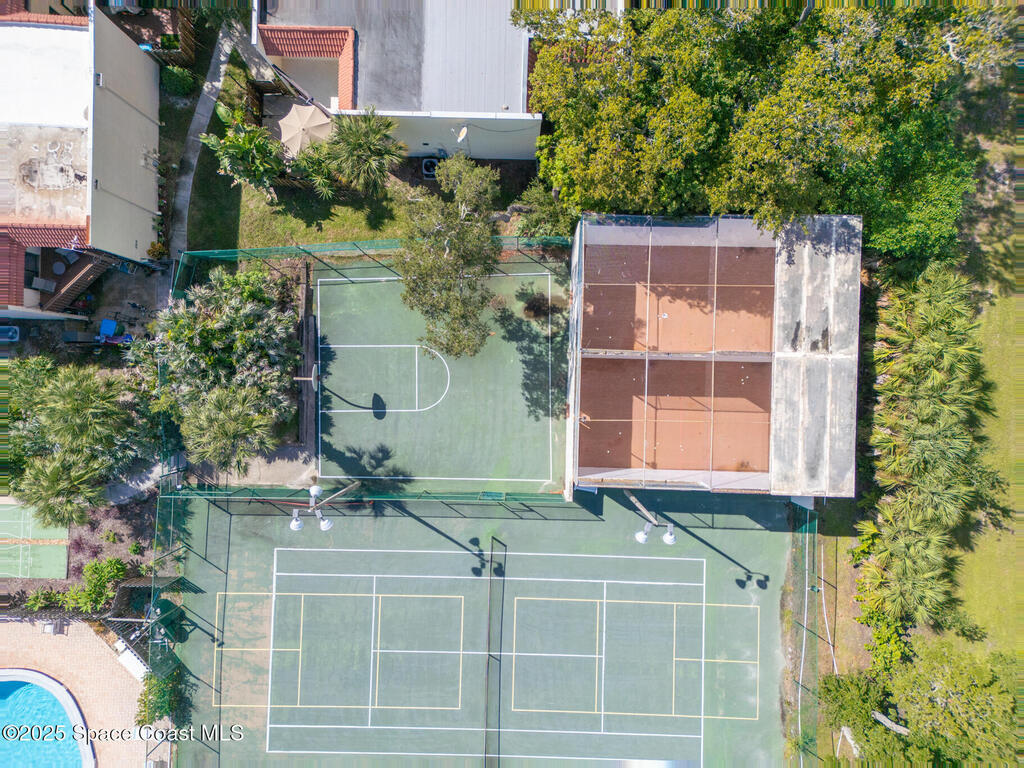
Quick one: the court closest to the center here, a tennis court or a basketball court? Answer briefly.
basketball court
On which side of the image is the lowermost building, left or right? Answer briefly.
right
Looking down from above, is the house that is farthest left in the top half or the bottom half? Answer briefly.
top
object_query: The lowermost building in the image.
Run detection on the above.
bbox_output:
[565,209,862,509]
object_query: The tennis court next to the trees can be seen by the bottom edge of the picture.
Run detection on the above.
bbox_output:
[181,480,789,768]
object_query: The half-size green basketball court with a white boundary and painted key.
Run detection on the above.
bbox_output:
[313,256,570,492]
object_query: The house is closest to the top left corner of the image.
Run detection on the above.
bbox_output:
[0,0,162,325]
